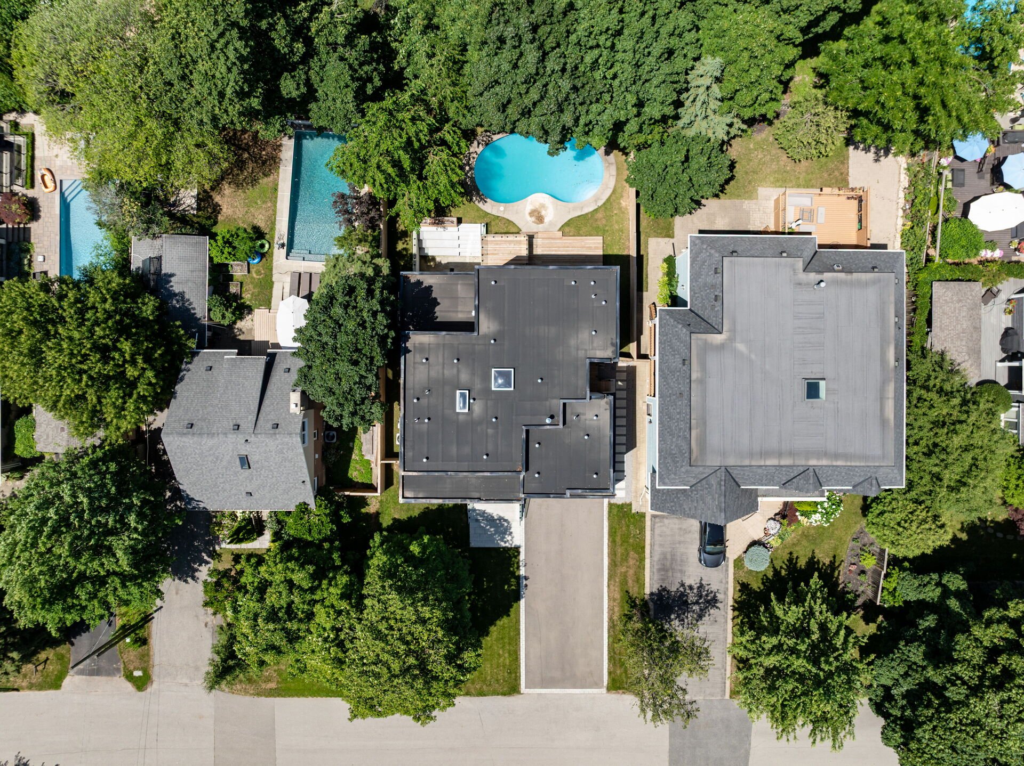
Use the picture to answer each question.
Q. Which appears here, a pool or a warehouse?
pool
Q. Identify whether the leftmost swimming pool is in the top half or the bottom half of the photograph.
top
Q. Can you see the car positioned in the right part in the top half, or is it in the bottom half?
bottom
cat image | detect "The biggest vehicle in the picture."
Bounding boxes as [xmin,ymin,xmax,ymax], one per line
[697,519,729,567]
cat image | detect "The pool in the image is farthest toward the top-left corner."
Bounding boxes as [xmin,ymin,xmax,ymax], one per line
[58,177,120,292]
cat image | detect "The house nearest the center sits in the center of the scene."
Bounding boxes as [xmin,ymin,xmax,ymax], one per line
[400,266,619,504]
